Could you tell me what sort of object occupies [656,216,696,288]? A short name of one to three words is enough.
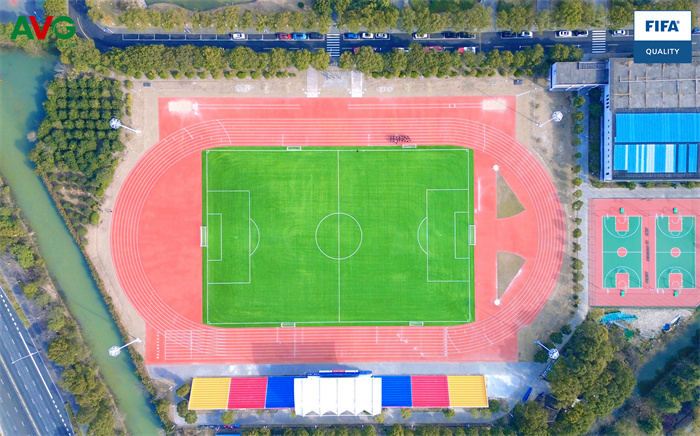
basketball court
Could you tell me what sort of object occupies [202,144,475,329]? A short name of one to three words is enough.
sports field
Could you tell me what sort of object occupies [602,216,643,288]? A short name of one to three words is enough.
basketball court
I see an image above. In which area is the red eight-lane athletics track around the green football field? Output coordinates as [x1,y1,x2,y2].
[111,96,565,364]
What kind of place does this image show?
sports ground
